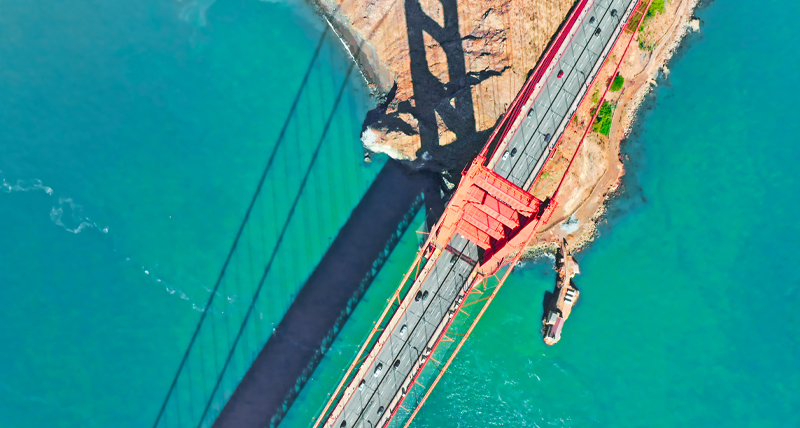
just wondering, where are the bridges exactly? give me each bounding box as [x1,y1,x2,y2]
[312,0,656,428]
